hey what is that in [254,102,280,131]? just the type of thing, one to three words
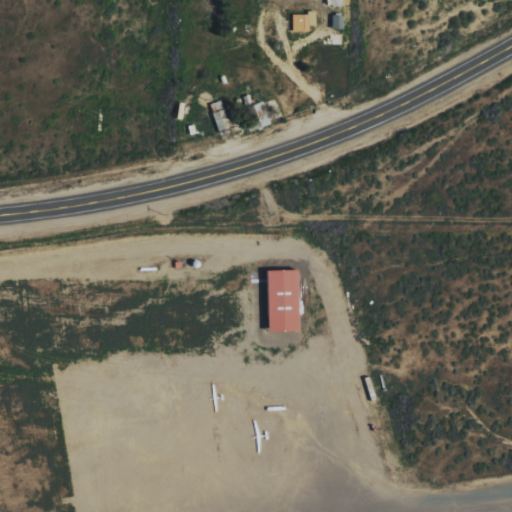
house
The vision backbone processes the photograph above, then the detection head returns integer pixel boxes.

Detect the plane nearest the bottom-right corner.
[252,420,270,454]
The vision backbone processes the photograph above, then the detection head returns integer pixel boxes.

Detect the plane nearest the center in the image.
[211,384,225,414]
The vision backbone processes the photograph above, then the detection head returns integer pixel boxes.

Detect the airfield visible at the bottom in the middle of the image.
[0,234,512,512]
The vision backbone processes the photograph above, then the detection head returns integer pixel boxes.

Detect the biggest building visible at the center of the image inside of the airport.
[268,270,302,332]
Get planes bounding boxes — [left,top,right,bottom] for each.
[211,384,225,414]
[252,420,270,454]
